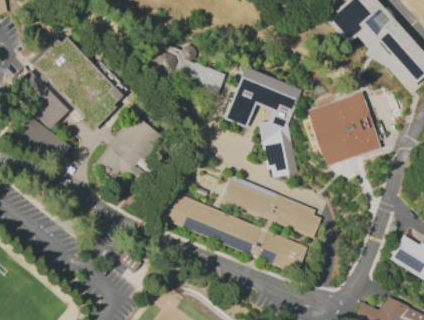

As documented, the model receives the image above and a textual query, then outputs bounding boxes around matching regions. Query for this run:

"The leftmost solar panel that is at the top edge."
[334,0,370,36]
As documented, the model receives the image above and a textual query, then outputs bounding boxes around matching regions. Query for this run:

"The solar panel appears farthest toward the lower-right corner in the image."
[395,248,424,272]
